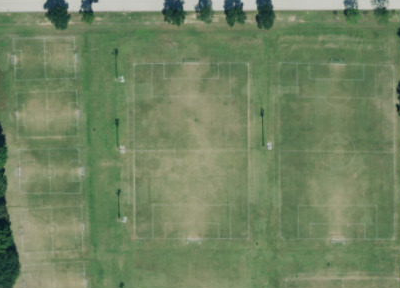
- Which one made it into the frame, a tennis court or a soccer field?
soccer field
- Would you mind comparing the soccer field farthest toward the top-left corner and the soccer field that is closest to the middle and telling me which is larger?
the soccer field that is closest to the middle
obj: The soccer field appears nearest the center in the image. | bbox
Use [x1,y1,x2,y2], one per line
[128,64,254,240]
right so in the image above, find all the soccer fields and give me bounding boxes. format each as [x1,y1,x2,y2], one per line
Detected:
[14,37,76,81]
[274,64,394,240]
[16,92,78,138]
[21,206,82,254]
[128,64,254,240]
[18,149,81,194]
[24,262,85,288]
